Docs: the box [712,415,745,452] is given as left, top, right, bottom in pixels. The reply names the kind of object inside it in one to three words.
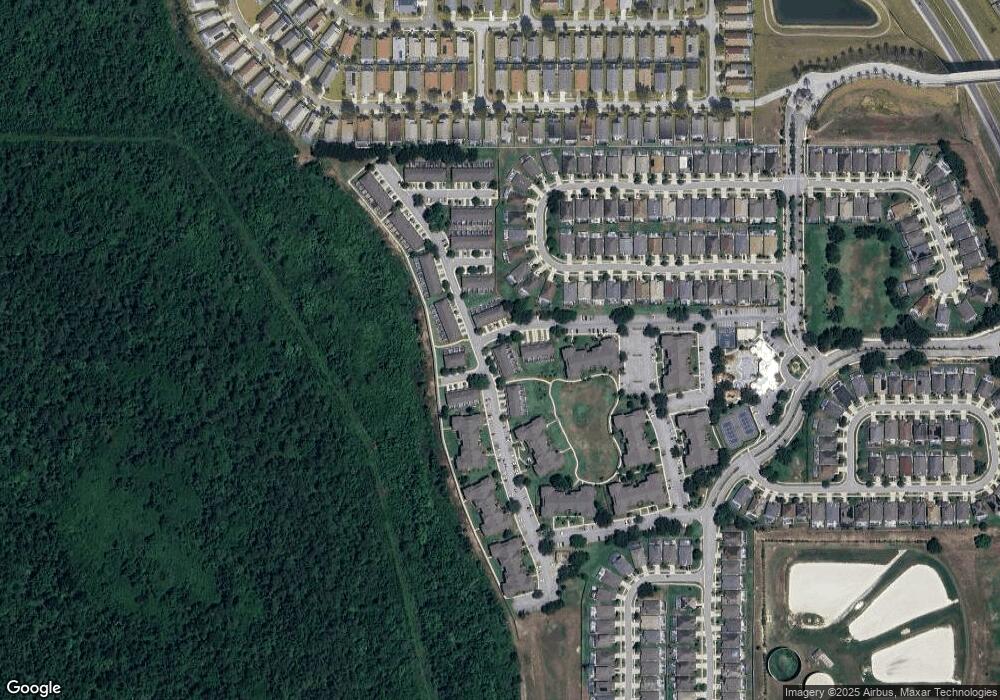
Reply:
tennis court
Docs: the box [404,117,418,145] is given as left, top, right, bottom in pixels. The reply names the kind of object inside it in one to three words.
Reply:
house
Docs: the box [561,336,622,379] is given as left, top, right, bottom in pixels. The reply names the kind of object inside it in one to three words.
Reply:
building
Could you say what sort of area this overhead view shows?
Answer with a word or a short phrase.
residential area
